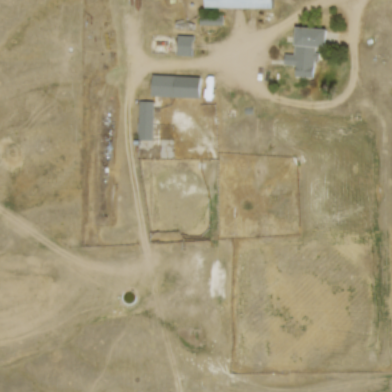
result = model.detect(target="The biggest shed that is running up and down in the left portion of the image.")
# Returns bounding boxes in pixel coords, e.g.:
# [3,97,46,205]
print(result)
[139,100,156,140]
